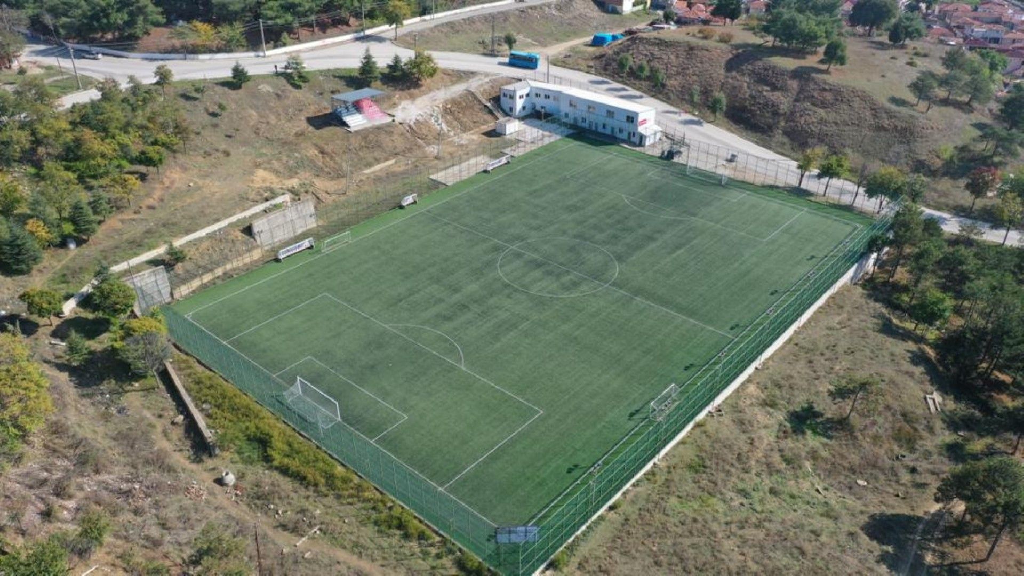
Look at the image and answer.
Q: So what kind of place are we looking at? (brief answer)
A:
sports ground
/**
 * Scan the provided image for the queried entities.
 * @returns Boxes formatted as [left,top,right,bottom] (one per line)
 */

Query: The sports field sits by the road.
[144,136,895,576]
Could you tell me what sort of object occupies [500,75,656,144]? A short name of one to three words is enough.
building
